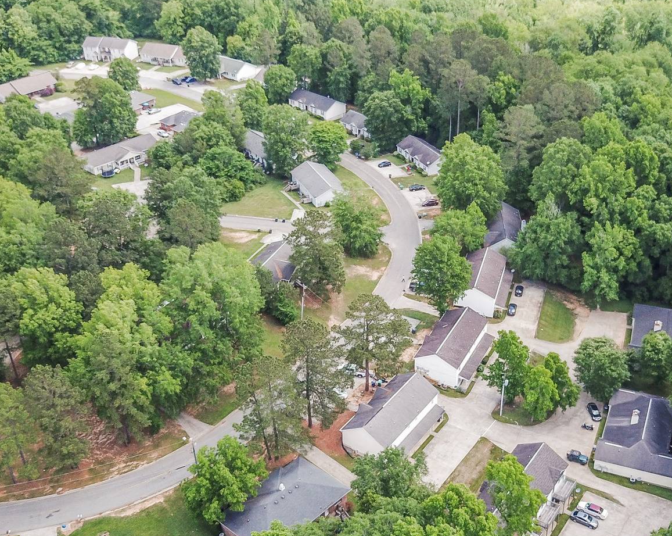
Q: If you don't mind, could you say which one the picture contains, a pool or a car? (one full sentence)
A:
I can see a car in this picture.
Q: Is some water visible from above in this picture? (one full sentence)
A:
No, no water is visible.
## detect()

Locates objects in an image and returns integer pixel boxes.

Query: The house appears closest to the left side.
[0,72,57,107]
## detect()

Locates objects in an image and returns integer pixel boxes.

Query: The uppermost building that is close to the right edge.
[629,300,672,360]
